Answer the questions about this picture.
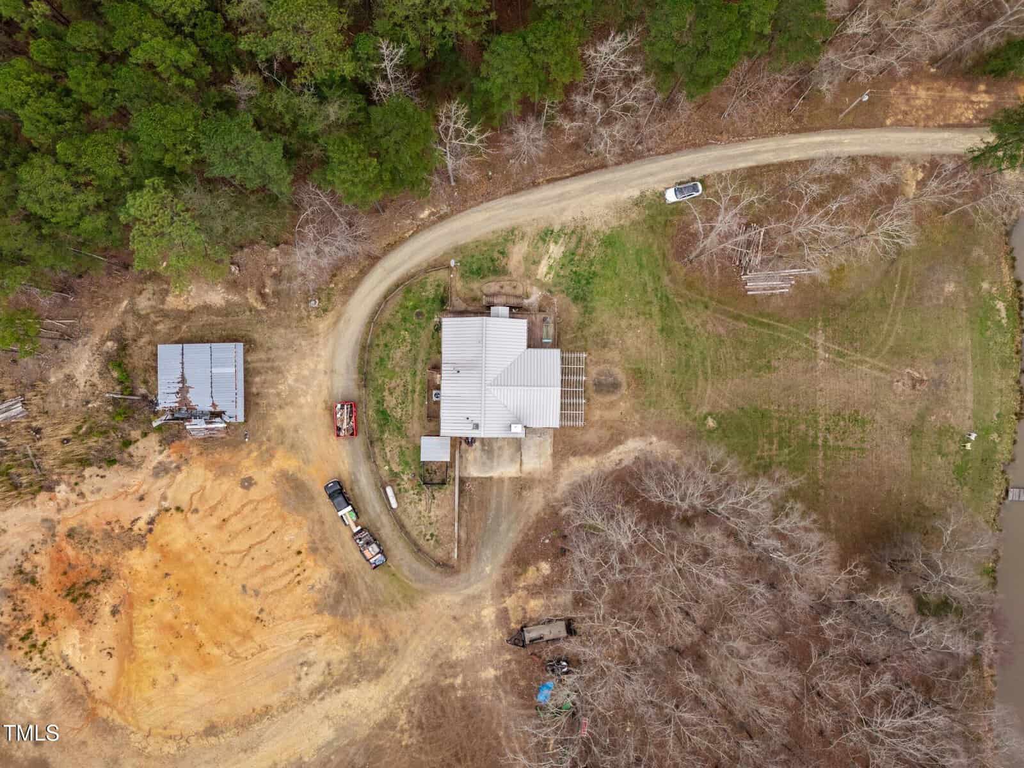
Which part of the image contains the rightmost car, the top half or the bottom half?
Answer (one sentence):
It is in the top half that the rightmost car appears.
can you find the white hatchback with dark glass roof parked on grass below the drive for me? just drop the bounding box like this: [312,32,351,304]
[665,182,703,204]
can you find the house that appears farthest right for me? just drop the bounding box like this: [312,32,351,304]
[441,306,562,439]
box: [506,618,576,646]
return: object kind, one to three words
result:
trailer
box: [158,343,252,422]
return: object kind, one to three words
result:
shed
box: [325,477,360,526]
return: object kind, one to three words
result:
truck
